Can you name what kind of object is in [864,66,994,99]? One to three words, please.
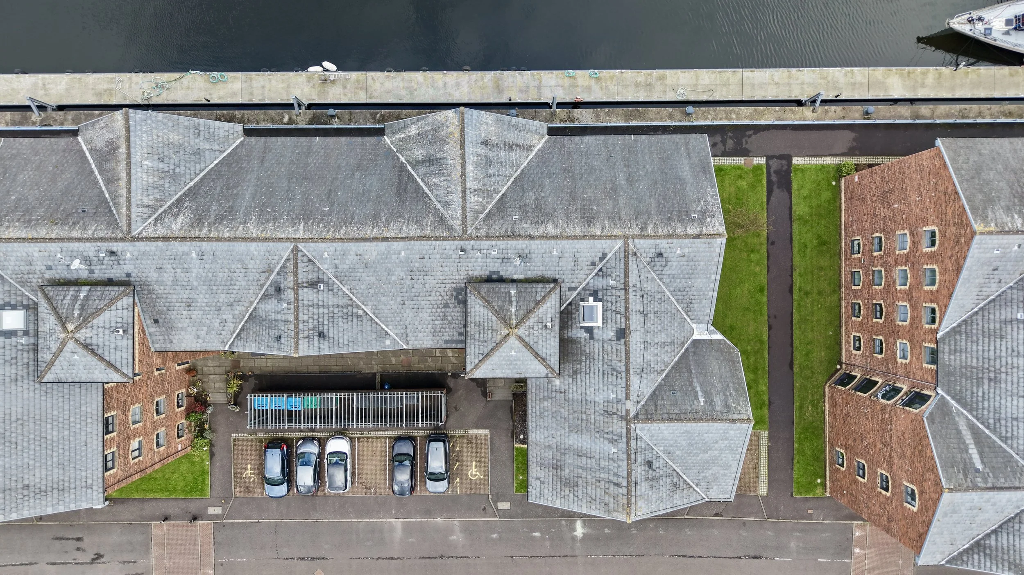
pier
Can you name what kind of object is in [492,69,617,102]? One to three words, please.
pier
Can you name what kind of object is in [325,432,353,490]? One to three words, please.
car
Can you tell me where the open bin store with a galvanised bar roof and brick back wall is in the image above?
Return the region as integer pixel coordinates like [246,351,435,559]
[245,386,450,430]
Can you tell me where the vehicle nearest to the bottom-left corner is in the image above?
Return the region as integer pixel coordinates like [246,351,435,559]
[262,440,293,497]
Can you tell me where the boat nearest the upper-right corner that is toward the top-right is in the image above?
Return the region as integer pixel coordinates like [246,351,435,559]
[945,4,1024,57]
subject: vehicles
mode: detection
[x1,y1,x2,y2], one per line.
[390,433,418,494]
[295,435,323,493]
[325,432,353,490]
[423,431,450,489]
[262,440,293,497]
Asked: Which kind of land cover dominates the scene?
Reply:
buildings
